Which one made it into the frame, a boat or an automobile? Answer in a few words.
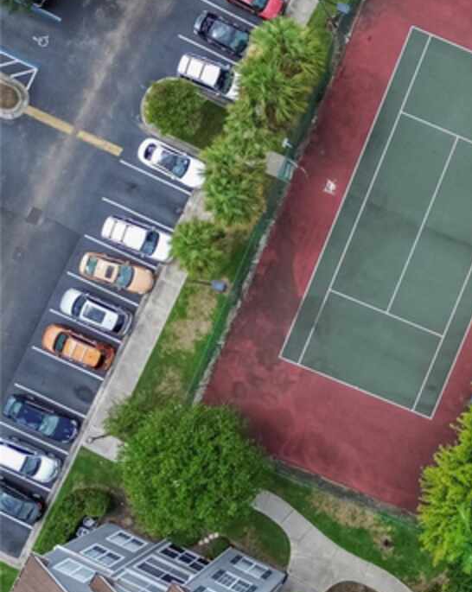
automobile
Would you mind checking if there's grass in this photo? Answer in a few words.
Yes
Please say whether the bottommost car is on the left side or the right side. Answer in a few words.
left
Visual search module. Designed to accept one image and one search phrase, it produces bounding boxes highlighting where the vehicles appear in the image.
[225,0,291,21]
[43,323,119,374]
[135,137,211,188]
[99,212,176,264]
[188,10,256,59]
[79,247,156,297]
[0,476,44,523]
[4,392,81,442]
[171,49,241,102]
[0,431,60,482]
[60,287,135,338]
